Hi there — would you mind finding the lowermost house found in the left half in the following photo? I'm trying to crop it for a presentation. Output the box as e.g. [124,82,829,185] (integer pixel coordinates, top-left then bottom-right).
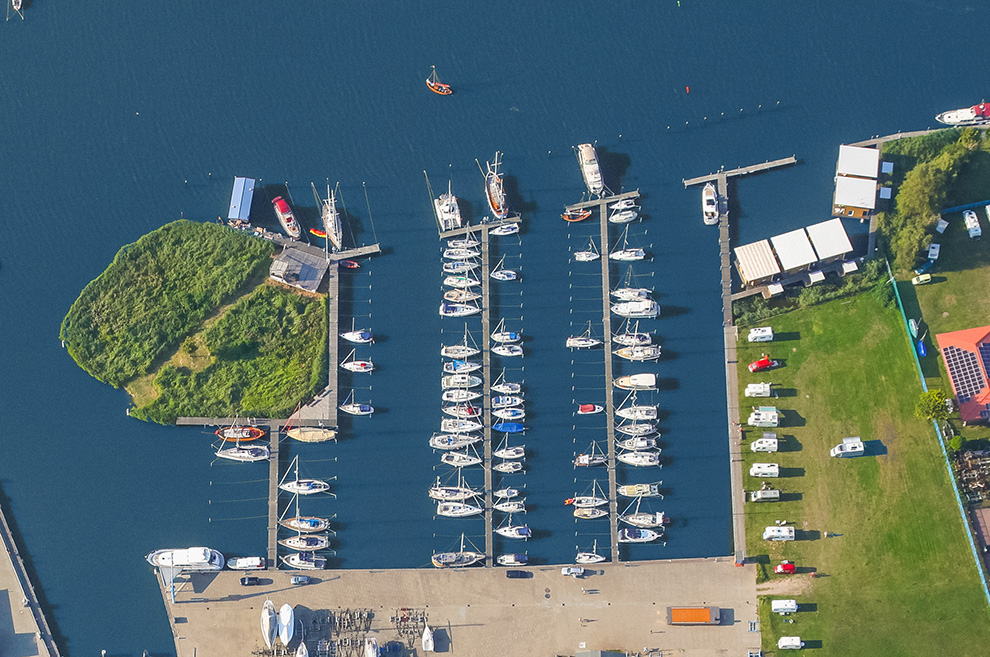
[270,246,330,295]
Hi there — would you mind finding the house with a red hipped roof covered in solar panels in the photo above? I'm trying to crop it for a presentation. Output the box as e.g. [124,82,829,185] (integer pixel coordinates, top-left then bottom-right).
[936,324,990,421]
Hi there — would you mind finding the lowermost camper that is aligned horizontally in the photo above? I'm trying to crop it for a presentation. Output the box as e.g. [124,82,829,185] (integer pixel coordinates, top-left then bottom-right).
[777,639,805,651]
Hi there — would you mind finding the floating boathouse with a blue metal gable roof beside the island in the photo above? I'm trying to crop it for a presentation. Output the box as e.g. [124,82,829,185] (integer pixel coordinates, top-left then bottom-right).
[226,177,257,224]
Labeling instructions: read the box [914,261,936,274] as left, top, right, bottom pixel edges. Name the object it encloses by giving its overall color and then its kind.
blue vehicle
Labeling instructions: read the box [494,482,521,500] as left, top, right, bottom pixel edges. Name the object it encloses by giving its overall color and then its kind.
white boat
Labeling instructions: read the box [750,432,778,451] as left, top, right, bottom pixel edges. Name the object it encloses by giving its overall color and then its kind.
white vehicle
